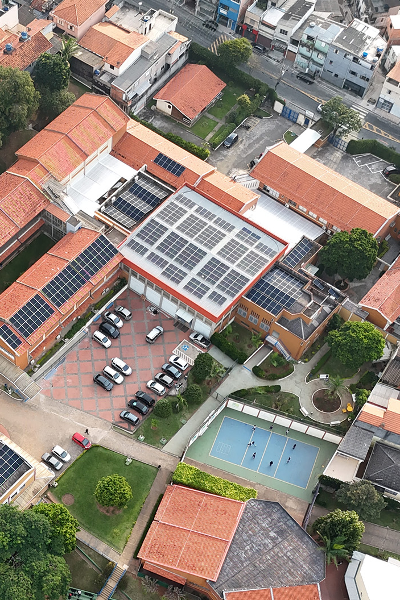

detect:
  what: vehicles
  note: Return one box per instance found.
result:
[93,332,112,348]
[297,71,314,85]
[40,452,64,470]
[146,380,168,398]
[146,326,164,344]
[128,399,150,417]
[134,390,157,408]
[313,102,330,115]
[50,445,73,464]
[99,321,120,338]
[71,434,92,450]
[103,365,123,385]
[114,305,133,322]
[103,312,124,328]
[188,333,213,350]
[169,356,190,372]
[161,364,183,380]
[94,375,113,391]
[223,133,239,148]
[202,21,220,32]
[120,411,141,427]
[111,355,132,376]
[154,374,176,389]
